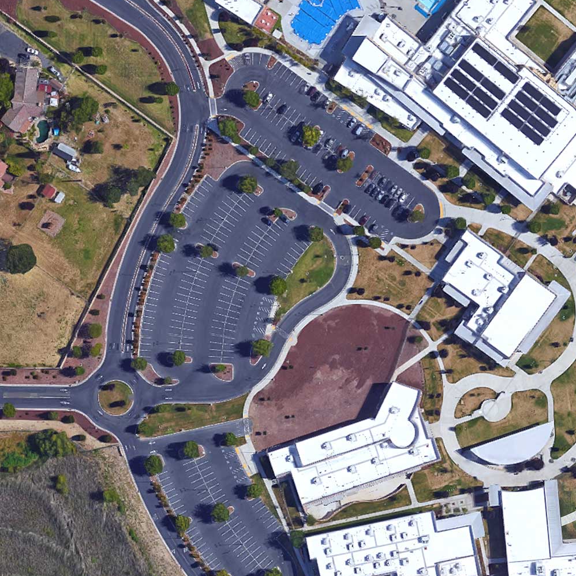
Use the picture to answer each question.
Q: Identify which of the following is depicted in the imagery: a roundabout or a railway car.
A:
roundabout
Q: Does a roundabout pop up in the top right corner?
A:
No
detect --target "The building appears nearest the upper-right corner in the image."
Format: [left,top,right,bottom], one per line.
[335,0,576,206]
